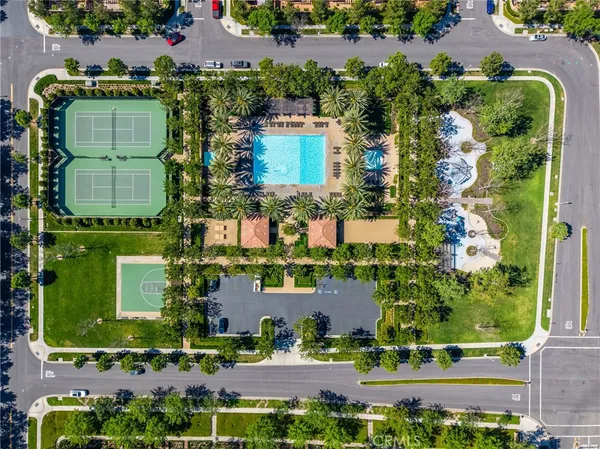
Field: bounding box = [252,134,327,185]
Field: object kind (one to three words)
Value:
swimming pool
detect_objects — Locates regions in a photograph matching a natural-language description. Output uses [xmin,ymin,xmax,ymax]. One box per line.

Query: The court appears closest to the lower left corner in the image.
[116,256,171,319]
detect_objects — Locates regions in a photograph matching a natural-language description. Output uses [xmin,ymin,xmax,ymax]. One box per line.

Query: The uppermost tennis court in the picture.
[56,100,167,157]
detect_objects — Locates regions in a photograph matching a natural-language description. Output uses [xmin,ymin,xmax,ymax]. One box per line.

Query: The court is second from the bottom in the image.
[56,157,167,216]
